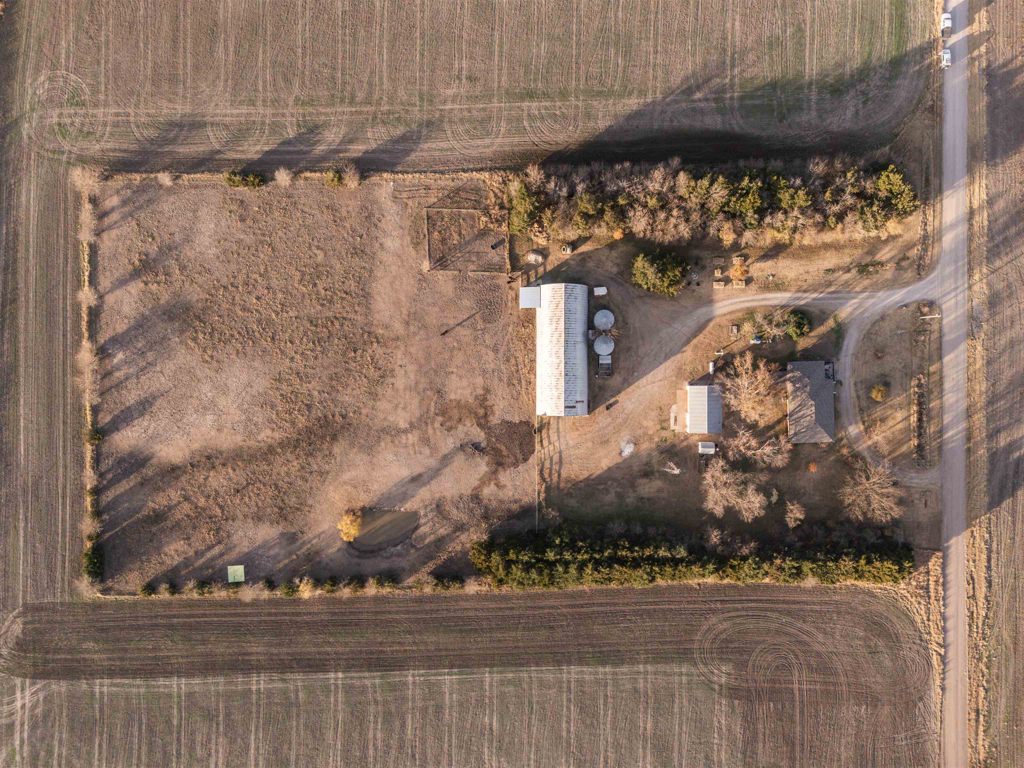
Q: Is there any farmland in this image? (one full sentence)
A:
Yes, some farmland is visible.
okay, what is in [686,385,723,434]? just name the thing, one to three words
building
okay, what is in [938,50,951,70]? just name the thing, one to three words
vehicle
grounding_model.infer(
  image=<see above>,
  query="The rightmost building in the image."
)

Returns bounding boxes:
[786,361,837,442]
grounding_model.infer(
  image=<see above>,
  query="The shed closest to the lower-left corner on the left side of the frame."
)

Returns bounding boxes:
[227,564,248,582]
